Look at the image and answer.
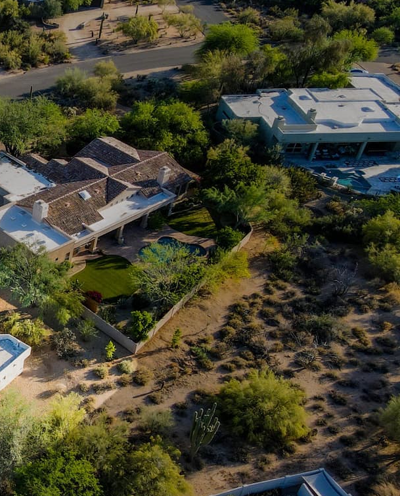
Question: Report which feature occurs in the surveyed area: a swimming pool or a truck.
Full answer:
I can see a swimming pool in this picture.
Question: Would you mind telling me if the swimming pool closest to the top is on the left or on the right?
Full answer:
It is on the right.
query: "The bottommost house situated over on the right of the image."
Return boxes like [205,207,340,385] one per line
[213,74,400,164]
